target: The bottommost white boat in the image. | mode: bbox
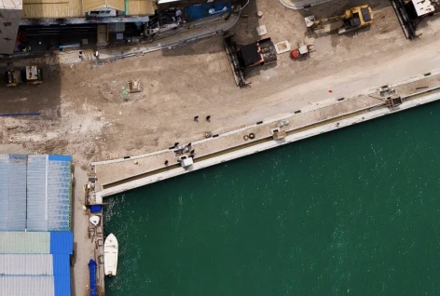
[104,234,119,279]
